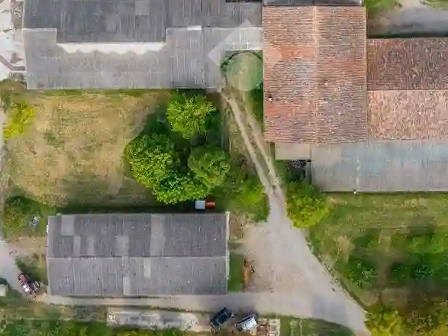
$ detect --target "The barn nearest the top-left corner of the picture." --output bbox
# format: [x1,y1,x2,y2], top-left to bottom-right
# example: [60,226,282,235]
[23,0,226,92]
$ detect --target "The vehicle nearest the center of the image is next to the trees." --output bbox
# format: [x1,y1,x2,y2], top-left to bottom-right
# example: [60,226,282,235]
[194,200,214,212]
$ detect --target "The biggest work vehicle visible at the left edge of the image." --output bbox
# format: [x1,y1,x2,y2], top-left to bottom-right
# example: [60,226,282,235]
[15,272,37,298]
